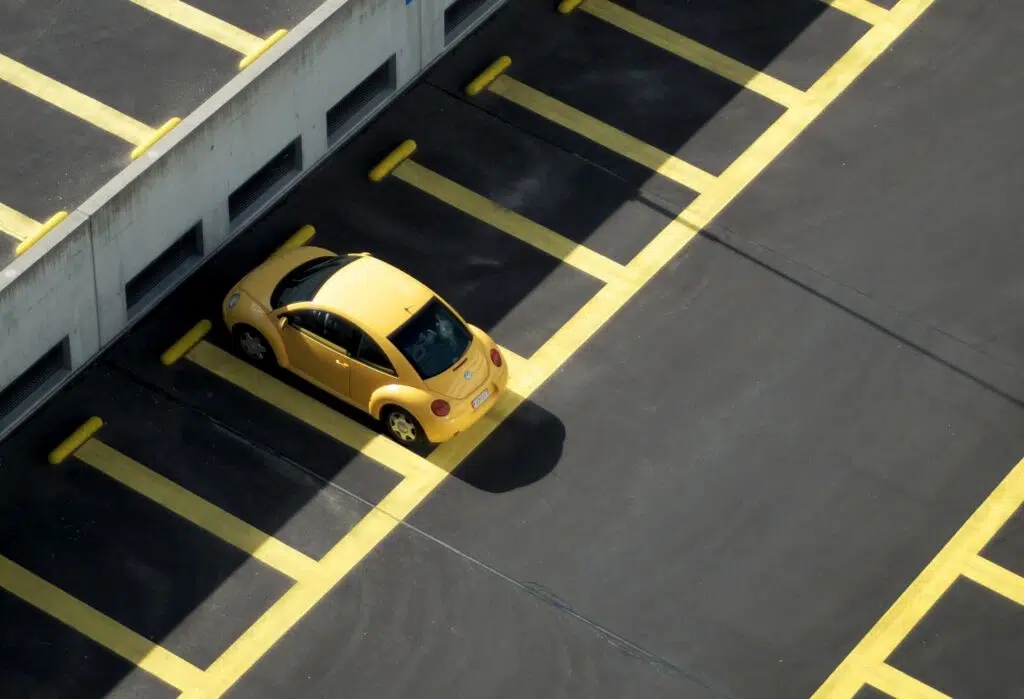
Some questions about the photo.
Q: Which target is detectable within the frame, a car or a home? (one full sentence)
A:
Visible in the photo is a car.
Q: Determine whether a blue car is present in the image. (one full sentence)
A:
No, this view has no blue car in it.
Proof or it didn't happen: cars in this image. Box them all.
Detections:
[224,244,508,445]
